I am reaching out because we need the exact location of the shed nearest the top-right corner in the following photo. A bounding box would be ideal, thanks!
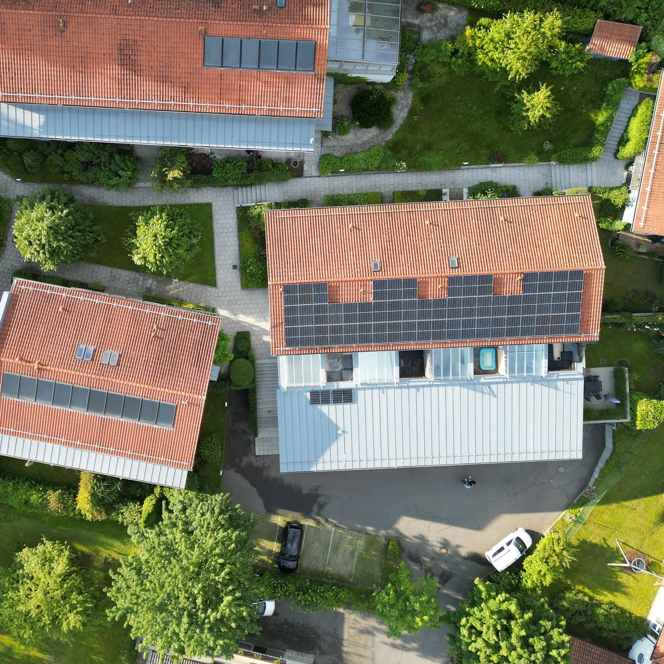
[585,18,643,61]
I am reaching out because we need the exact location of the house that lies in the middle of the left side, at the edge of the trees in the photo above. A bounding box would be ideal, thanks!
[0,276,222,490]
